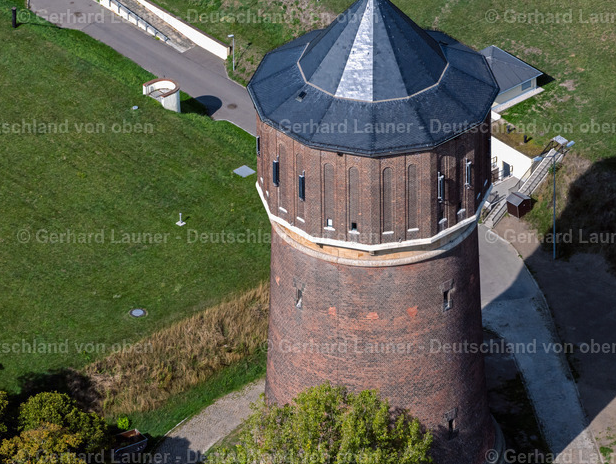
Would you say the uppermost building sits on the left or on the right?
right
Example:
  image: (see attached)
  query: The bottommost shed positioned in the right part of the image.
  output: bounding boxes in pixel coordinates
[507,190,531,217]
